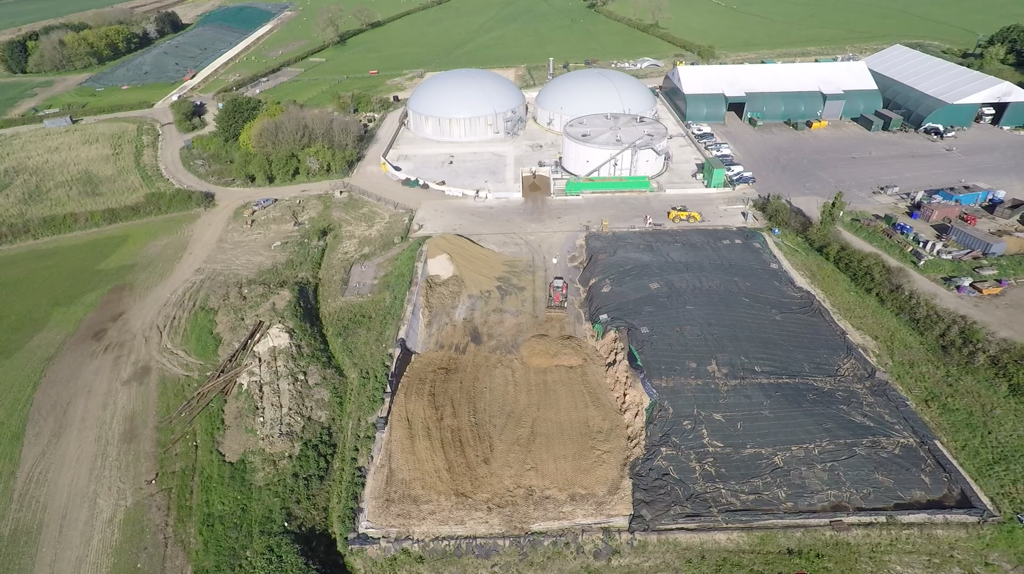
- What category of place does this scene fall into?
industrial area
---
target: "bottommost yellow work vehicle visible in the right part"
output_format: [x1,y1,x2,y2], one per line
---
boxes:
[670,204,706,225]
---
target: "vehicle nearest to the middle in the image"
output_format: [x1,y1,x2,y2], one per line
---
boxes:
[547,270,571,310]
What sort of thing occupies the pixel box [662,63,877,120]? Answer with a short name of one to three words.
shed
